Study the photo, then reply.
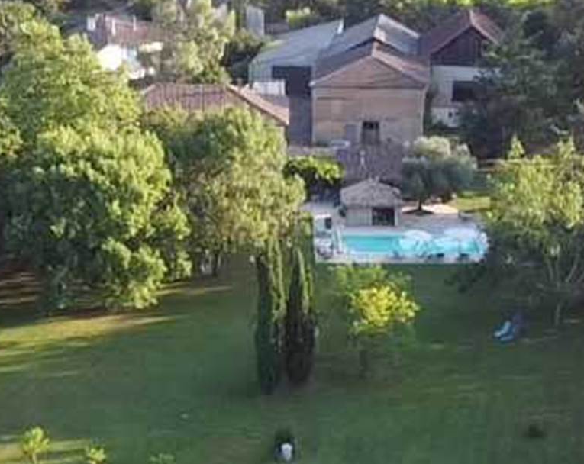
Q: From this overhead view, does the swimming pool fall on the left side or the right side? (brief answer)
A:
right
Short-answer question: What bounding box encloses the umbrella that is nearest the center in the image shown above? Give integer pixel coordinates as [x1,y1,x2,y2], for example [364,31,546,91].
[397,227,436,255]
